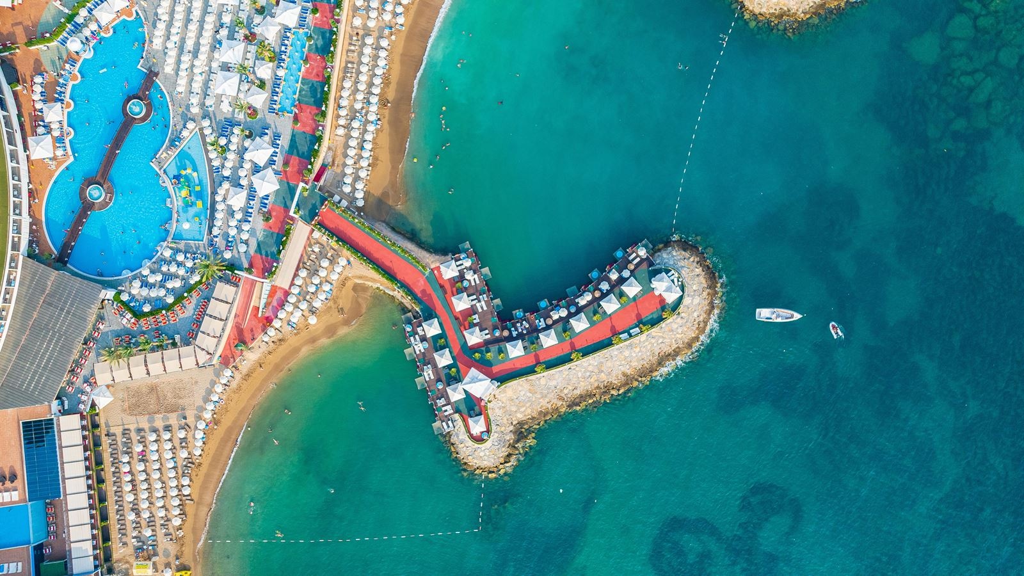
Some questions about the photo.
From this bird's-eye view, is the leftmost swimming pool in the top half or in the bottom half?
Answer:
bottom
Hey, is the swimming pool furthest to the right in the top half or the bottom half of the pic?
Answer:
top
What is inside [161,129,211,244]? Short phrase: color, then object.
blue swimming pool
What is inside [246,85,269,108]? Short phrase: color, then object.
white umbrella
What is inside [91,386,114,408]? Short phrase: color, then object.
white gazebo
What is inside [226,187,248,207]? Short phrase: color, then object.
white umbrella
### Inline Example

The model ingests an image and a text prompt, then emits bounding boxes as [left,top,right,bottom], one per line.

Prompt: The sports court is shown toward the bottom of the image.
[122,374,198,419]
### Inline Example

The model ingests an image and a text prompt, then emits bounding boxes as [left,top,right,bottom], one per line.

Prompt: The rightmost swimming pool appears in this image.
[276,29,311,115]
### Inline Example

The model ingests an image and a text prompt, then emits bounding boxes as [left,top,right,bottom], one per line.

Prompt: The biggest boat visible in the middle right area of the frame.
[754,309,802,322]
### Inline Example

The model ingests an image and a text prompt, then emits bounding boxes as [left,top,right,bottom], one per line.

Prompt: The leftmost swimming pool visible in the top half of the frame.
[42,7,175,279]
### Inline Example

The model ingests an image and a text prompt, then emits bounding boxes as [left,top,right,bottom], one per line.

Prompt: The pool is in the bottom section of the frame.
[0,501,48,551]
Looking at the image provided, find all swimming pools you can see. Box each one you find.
[161,129,211,244]
[42,7,175,279]
[0,501,48,551]
[276,29,311,115]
